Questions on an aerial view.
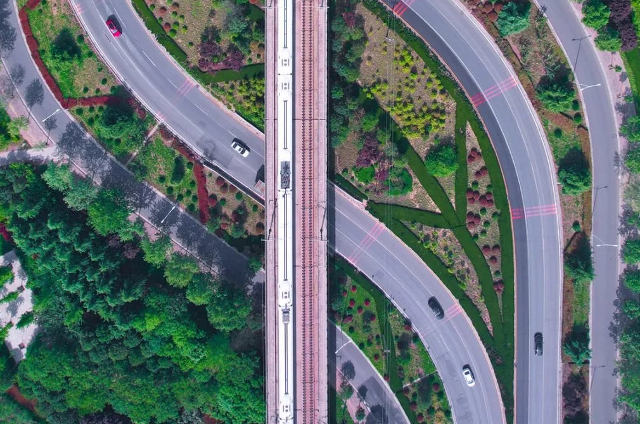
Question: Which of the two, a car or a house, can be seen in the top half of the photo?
car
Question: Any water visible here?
No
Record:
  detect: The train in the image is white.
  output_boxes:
[276,0,293,424]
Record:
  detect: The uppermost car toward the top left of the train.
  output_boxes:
[106,16,122,37]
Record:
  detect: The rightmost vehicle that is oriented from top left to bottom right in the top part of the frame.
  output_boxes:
[230,139,251,155]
